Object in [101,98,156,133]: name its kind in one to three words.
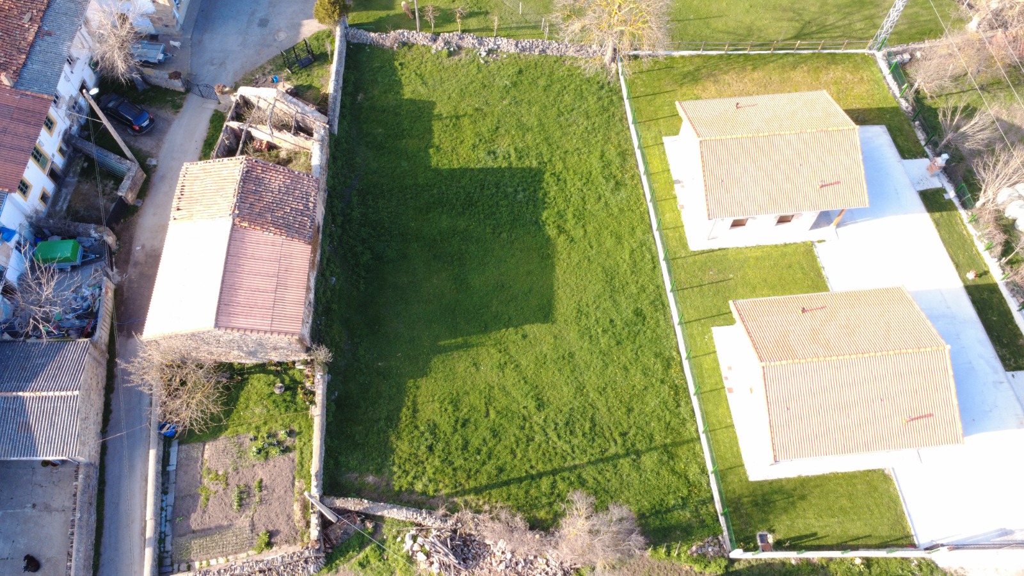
car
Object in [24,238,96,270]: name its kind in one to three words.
trailer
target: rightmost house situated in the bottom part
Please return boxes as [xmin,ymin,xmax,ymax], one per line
[730,292,970,469]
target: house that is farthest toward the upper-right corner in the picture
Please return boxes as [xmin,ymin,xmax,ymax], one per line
[679,93,873,238]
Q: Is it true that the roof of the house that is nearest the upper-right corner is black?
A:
No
